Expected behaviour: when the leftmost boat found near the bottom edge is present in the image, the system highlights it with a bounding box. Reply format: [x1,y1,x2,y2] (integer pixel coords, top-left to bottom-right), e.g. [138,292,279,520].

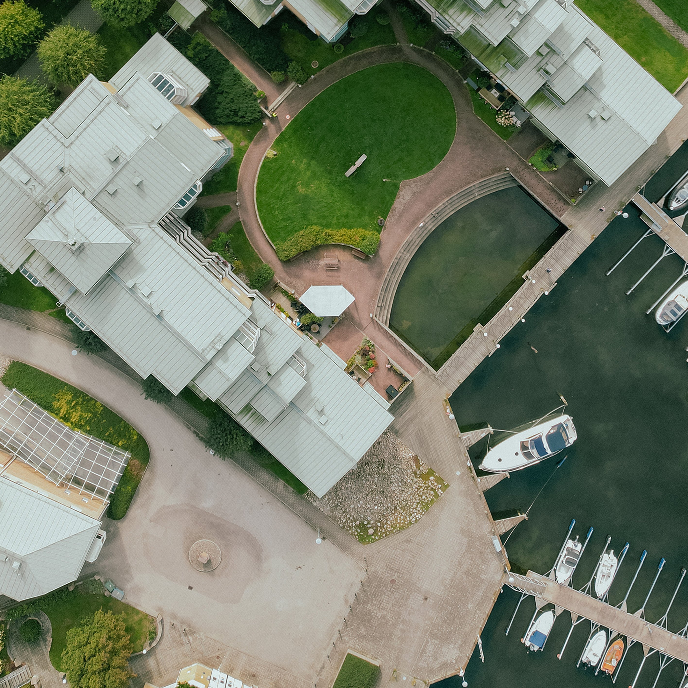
[525,611,555,654]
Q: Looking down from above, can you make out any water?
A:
Yes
